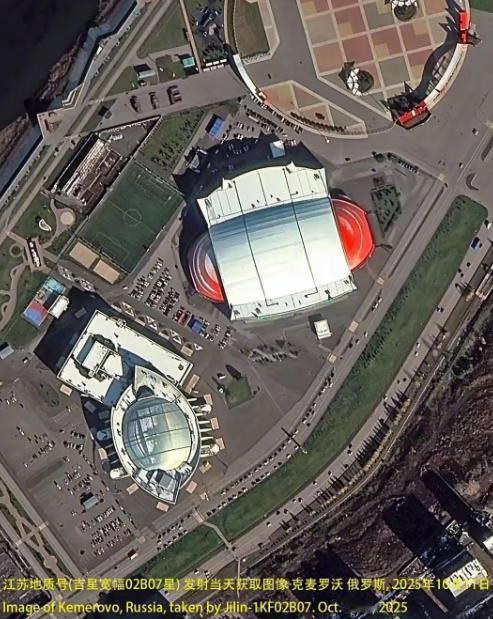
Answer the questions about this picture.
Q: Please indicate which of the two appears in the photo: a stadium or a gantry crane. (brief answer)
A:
stadium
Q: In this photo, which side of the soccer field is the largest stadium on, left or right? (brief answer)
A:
to its right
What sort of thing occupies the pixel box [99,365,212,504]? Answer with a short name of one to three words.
building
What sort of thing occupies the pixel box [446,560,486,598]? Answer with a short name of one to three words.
building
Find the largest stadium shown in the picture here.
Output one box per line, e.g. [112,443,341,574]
[188,161,374,320]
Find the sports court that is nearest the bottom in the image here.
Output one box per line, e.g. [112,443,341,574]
[23,276,65,326]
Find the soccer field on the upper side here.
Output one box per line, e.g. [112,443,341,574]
[79,159,185,274]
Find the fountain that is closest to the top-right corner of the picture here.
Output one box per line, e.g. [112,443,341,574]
[393,0,416,22]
